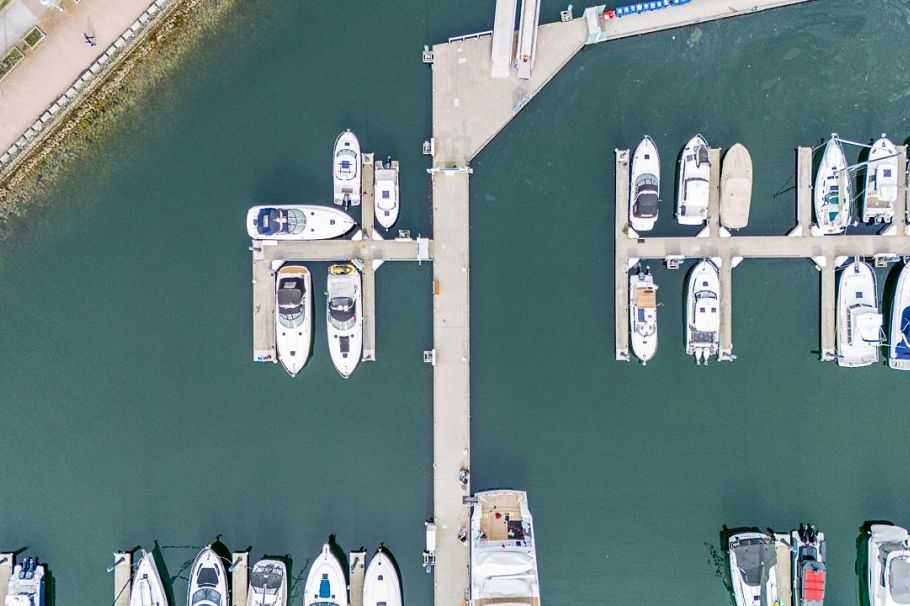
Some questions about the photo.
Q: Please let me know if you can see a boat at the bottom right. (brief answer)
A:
Yes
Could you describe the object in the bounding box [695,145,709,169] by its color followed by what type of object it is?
gray boat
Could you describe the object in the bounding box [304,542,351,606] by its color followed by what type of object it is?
white boat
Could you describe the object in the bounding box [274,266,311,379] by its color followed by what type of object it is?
white boat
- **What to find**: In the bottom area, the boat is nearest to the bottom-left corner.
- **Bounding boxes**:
[3,559,47,606]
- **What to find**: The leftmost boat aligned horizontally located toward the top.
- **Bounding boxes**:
[247,205,359,243]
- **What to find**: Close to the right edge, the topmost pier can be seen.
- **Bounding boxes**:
[615,147,910,363]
